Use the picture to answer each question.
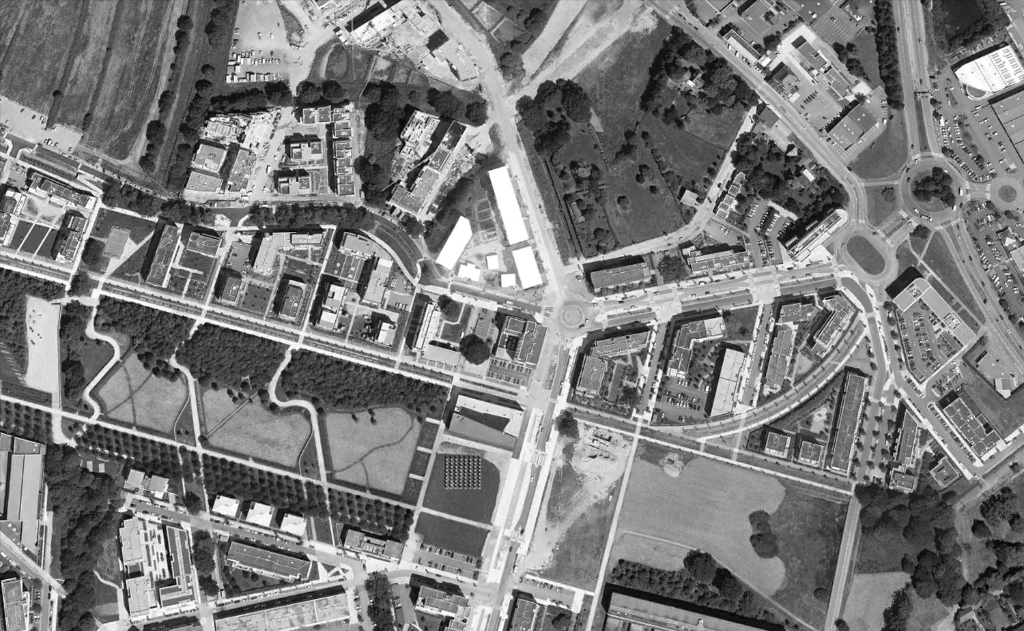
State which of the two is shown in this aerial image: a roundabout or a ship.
roundabout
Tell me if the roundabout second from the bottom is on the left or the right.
right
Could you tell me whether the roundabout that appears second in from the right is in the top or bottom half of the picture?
top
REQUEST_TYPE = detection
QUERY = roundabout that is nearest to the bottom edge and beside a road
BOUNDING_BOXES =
[551,295,594,337]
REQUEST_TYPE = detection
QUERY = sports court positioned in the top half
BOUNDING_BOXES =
[103,225,131,259]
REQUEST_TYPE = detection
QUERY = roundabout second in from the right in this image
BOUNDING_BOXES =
[896,153,970,226]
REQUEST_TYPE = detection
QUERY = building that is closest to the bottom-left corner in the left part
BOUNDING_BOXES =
[1,579,30,631]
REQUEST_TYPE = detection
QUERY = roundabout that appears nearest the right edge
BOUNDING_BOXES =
[989,175,1024,212]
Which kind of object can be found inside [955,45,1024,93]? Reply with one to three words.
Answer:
building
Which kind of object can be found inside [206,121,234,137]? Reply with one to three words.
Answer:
building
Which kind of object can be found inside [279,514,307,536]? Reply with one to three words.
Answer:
house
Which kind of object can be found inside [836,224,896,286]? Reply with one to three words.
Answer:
roundabout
